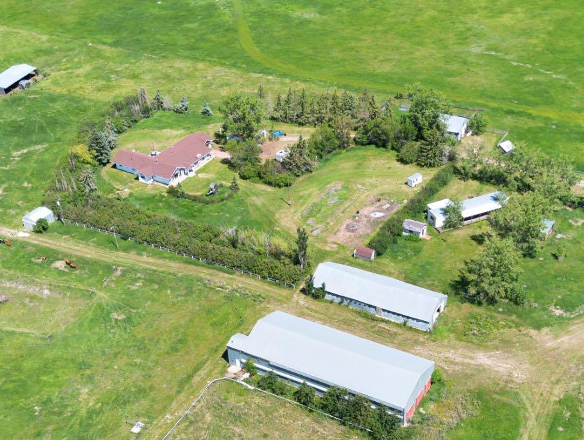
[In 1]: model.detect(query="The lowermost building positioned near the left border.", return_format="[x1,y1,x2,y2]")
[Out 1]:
[21,207,54,231]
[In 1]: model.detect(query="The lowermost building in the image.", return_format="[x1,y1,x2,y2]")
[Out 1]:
[227,310,434,423]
